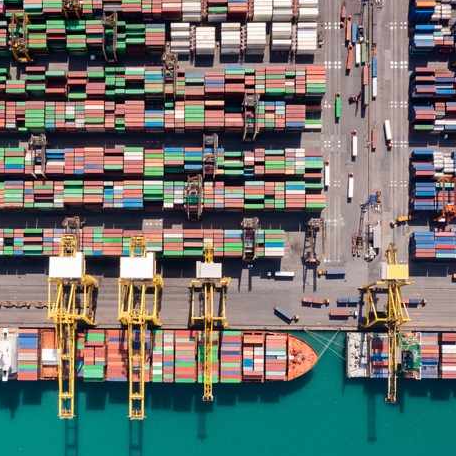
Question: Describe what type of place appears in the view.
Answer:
port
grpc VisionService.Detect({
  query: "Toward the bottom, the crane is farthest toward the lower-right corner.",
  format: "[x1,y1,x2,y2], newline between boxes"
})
[353,245,411,402]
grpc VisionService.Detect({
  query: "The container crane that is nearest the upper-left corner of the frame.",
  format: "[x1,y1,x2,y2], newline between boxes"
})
[12,10,35,62]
